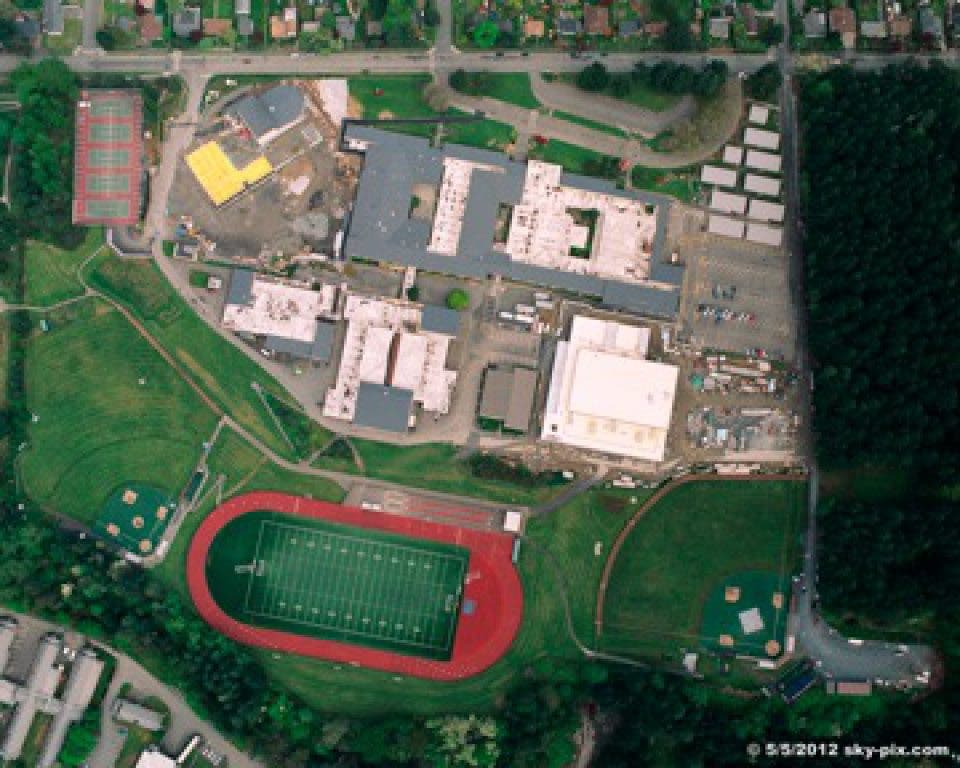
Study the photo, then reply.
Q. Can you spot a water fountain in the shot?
No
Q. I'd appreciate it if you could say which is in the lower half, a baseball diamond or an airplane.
baseball diamond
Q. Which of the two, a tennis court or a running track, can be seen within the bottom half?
running track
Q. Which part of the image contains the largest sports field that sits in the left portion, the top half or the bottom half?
bottom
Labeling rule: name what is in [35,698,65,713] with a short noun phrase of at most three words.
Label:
building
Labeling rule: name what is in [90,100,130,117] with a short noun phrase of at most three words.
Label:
tennis court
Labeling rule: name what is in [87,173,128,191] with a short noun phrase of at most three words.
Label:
tennis court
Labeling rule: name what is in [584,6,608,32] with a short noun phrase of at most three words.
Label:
house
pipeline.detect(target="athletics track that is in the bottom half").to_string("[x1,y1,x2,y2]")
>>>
[186,491,523,680]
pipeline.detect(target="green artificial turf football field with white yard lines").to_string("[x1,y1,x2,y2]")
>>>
[204,510,473,662]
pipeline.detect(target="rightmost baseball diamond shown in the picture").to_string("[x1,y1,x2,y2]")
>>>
[595,475,806,664]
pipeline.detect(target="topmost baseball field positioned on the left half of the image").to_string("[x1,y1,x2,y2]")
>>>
[90,481,185,559]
